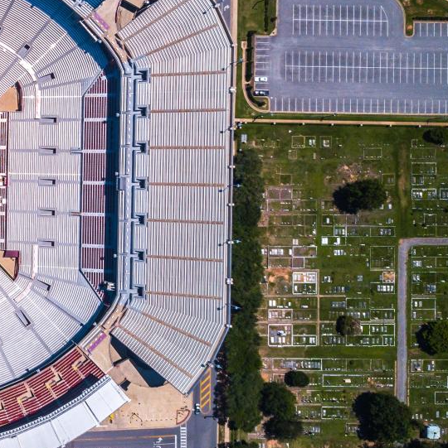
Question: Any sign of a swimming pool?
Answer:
No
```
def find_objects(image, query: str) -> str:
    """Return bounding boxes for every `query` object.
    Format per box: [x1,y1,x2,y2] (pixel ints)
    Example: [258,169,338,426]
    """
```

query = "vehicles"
[194,402,200,415]
[253,89,270,96]
[254,76,267,82]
